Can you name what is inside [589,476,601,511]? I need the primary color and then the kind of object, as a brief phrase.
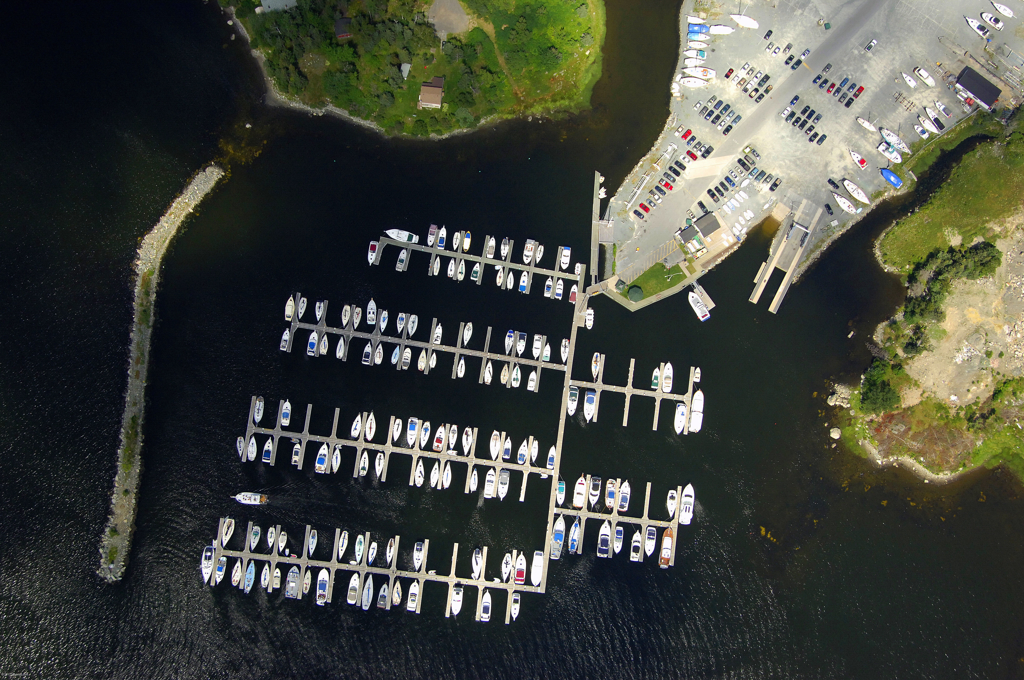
white boat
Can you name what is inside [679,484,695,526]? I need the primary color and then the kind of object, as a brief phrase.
white boat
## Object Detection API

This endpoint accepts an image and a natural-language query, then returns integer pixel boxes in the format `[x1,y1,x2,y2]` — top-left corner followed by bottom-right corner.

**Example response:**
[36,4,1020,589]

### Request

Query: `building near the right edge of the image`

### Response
[952,66,1002,112]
